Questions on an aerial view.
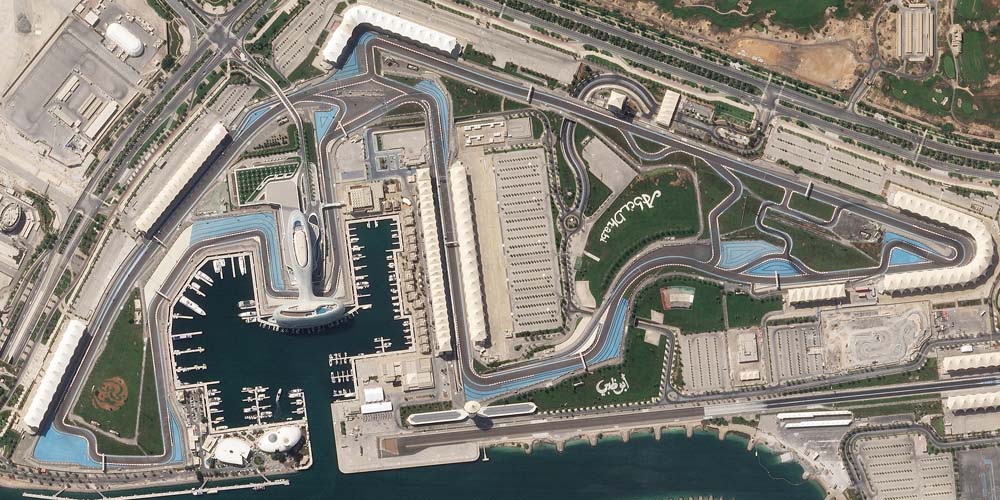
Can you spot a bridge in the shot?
Yes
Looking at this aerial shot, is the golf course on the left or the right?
right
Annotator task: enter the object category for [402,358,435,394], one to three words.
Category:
building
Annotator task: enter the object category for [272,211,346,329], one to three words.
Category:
building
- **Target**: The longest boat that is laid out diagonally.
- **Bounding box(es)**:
[180,296,205,313]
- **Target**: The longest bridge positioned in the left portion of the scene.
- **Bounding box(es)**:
[272,81,307,158]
